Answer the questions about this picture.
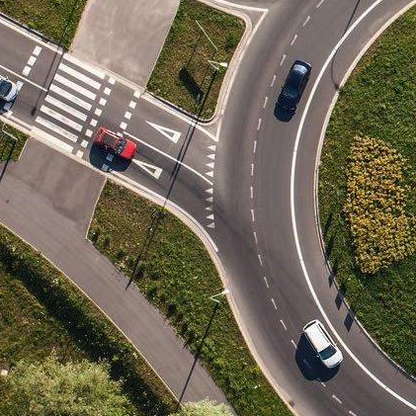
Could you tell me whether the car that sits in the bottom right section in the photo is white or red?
white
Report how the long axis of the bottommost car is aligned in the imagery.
at an angle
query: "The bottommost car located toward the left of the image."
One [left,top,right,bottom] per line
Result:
[93,127,136,158]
